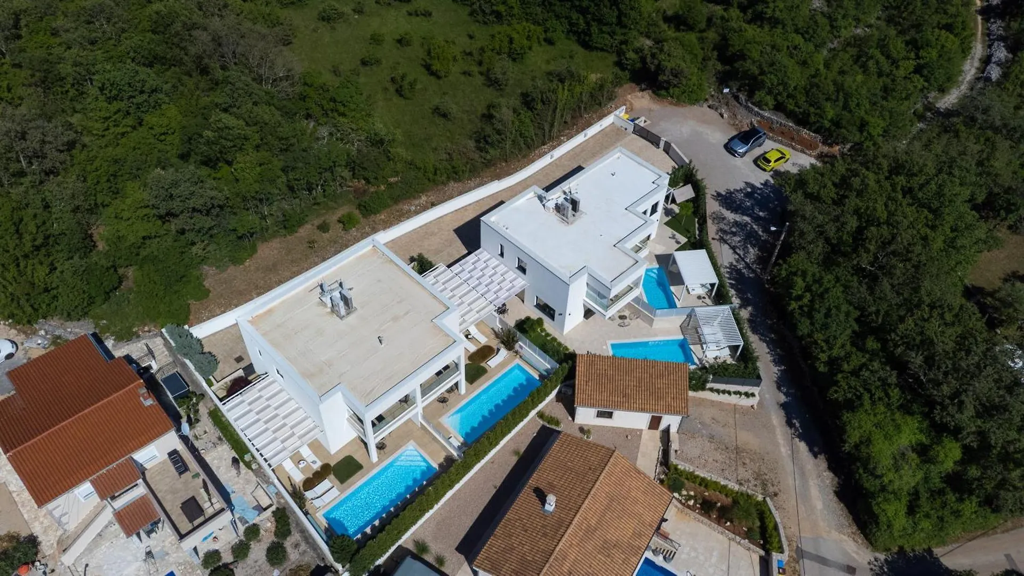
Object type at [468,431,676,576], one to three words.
house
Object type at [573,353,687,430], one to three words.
shed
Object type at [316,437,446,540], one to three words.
swimming pool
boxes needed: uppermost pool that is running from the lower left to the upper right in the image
[436,356,540,448]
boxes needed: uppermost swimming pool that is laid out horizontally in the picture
[606,334,698,368]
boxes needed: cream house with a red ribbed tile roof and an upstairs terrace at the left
[0,335,237,557]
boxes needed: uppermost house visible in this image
[481,146,669,335]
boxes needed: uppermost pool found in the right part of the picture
[638,263,680,312]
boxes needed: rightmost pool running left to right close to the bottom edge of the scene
[633,548,696,576]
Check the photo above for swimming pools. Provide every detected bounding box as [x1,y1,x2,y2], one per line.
[153,566,182,576]
[436,356,540,448]
[316,437,446,540]
[638,263,680,312]
[633,548,696,576]
[606,334,698,368]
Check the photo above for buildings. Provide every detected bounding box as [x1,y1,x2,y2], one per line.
[573,353,687,430]
[237,239,464,460]
[0,335,237,557]
[468,431,676,576]
[481,146,669,335]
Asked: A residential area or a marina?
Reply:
residential area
